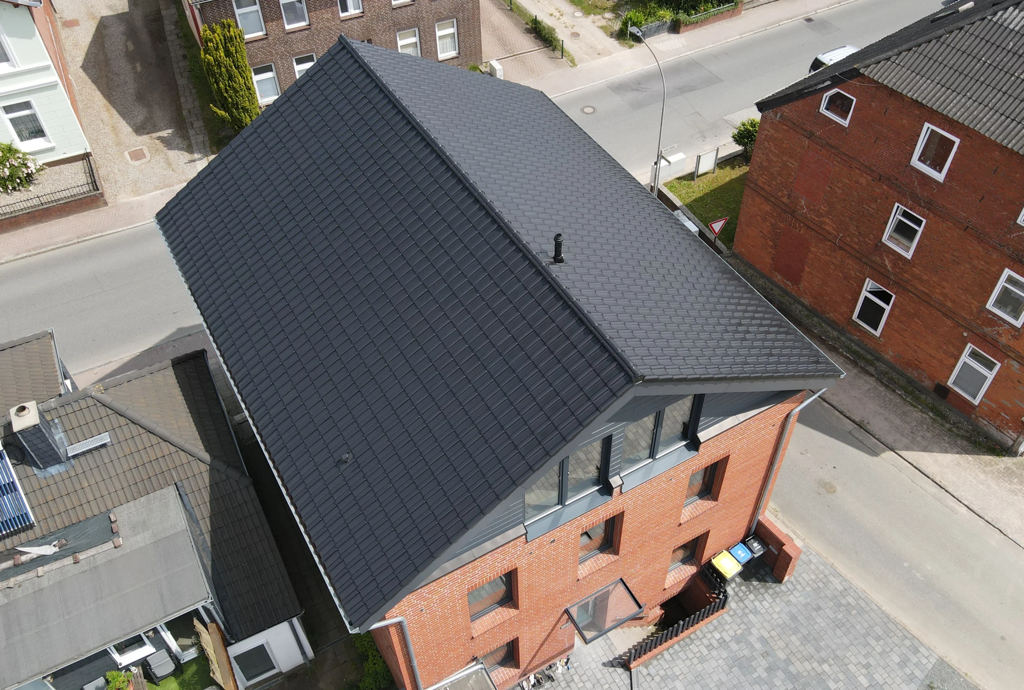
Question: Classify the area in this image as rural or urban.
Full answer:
It looks urban.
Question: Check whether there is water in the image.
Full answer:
No, there's no water in this view.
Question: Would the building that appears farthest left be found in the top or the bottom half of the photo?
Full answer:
The building that appears farthest left is in the top half of the image.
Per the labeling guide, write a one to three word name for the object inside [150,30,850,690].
house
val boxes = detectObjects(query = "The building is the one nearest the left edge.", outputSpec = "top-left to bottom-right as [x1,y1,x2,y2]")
[0,0,90,177]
